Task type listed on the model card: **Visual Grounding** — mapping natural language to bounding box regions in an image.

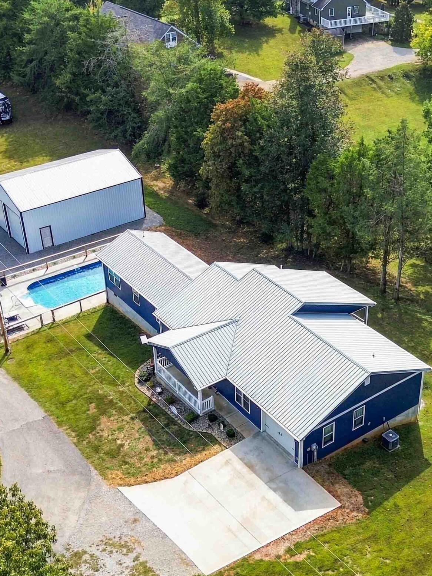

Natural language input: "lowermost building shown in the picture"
[97,229,432,470]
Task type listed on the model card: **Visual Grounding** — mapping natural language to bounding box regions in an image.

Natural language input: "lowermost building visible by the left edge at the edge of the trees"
[0,148,145,254]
